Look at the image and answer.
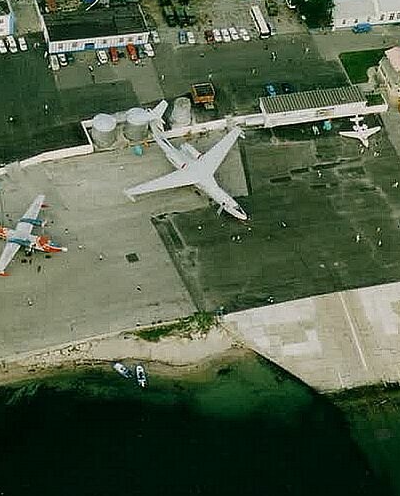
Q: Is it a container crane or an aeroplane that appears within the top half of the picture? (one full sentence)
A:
What appears within the top half of the picture is an aeroplane.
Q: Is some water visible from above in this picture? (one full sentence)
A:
Yes, there is water in the image.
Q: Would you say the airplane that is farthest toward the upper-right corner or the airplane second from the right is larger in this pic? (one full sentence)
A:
The airplane second from the right takes up more space than the airplane that is farthest toward the upper-right corner does.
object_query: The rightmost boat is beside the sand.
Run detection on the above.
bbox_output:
[135,365,147,385]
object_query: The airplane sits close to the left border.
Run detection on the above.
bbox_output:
[0,193,67,275]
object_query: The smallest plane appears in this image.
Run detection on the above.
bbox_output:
[339,111,380,146]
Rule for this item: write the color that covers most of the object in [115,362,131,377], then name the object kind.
white boat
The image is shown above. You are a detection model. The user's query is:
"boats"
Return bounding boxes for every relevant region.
[135,365,147,385]
[115,362,131,377]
